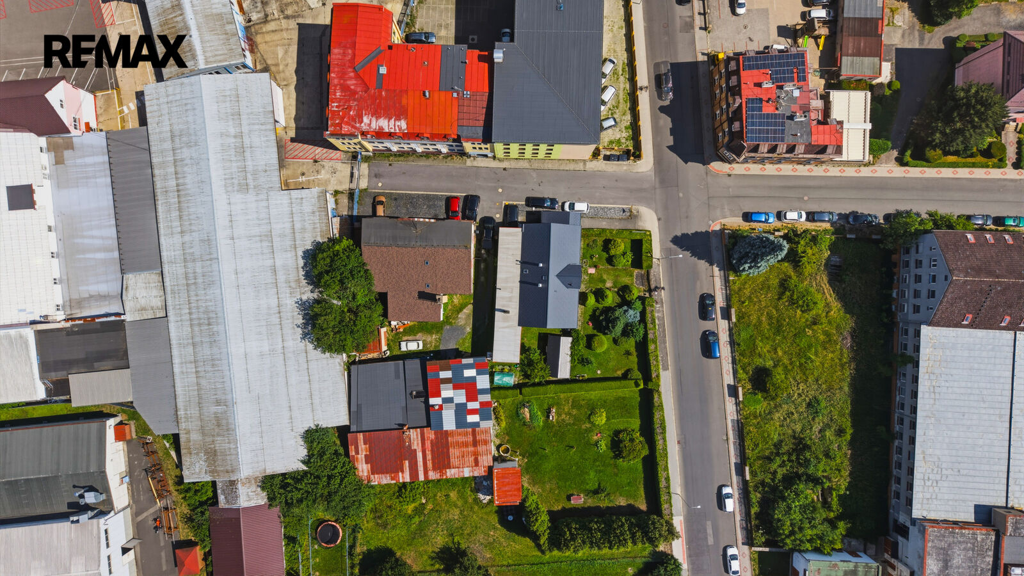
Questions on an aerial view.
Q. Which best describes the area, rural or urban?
urban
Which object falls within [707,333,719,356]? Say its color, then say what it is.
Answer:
blue vehicle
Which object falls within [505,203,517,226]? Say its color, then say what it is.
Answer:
black vehicle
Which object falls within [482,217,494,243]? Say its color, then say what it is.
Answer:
black vehicle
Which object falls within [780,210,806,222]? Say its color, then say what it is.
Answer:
white vehicle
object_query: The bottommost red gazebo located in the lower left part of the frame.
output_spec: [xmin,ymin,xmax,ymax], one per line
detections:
[175,545,209,576]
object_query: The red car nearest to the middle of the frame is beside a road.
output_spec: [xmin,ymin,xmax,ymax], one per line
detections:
[448,197,460,220]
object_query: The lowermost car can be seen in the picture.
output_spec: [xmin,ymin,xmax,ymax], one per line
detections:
[727,548,740,575]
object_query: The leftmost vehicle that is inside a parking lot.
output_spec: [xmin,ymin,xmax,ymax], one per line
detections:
[374,196,386,220]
